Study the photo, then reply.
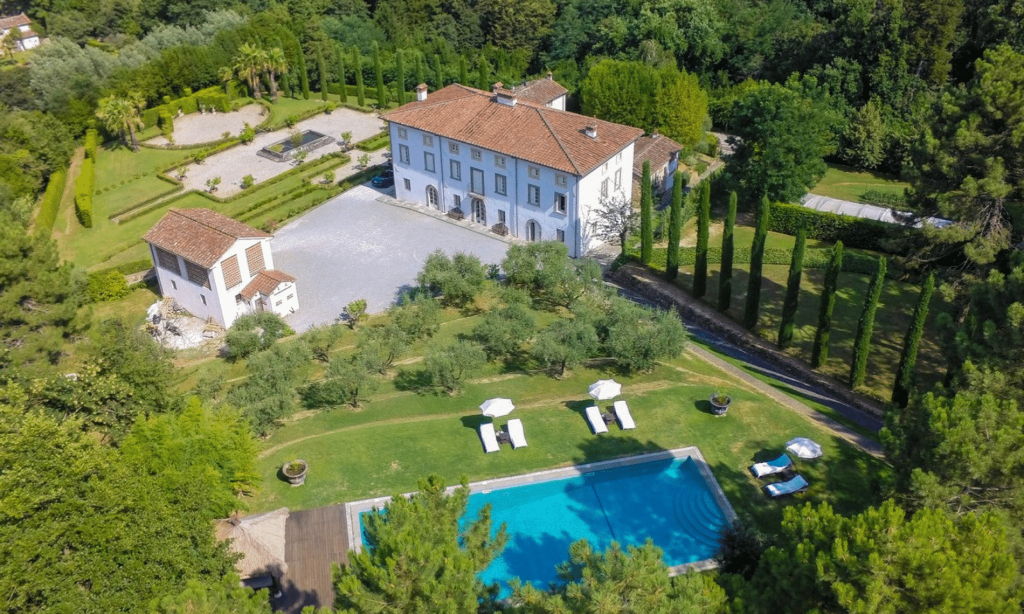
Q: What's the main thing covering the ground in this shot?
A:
trees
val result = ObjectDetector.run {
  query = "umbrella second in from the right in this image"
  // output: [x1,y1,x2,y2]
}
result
[588,382,621,404]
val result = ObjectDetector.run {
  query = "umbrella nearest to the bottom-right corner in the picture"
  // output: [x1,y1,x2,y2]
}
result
[785,439,823,478]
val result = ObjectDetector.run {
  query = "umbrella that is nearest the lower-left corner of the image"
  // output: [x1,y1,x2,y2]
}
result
[479,399,515,435]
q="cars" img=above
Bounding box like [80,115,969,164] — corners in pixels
[379,168,396,188]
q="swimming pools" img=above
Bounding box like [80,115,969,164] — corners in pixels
[345,447,755,614]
